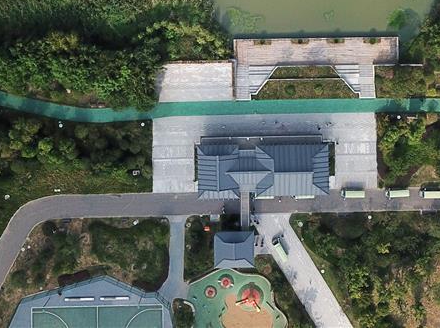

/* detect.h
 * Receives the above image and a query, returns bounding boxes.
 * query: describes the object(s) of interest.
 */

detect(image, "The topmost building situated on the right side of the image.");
[195,136,335,201]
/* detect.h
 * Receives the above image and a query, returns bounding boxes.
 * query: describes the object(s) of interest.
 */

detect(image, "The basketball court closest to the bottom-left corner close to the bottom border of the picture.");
[32,308,162,328]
